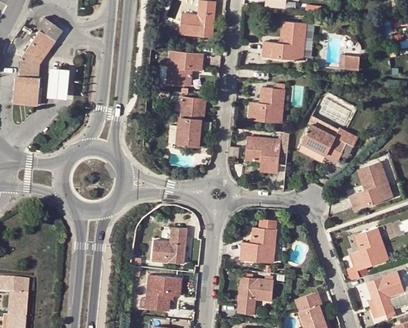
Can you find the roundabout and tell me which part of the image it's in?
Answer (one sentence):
The roundabout is in the left part of the image.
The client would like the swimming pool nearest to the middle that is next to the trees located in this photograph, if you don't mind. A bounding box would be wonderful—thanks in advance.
[168,153,196,168]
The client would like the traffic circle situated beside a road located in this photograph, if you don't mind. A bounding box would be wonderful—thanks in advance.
[66,138,122,221]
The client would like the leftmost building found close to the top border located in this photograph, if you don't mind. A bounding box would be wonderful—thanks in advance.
[12,16,63,106]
